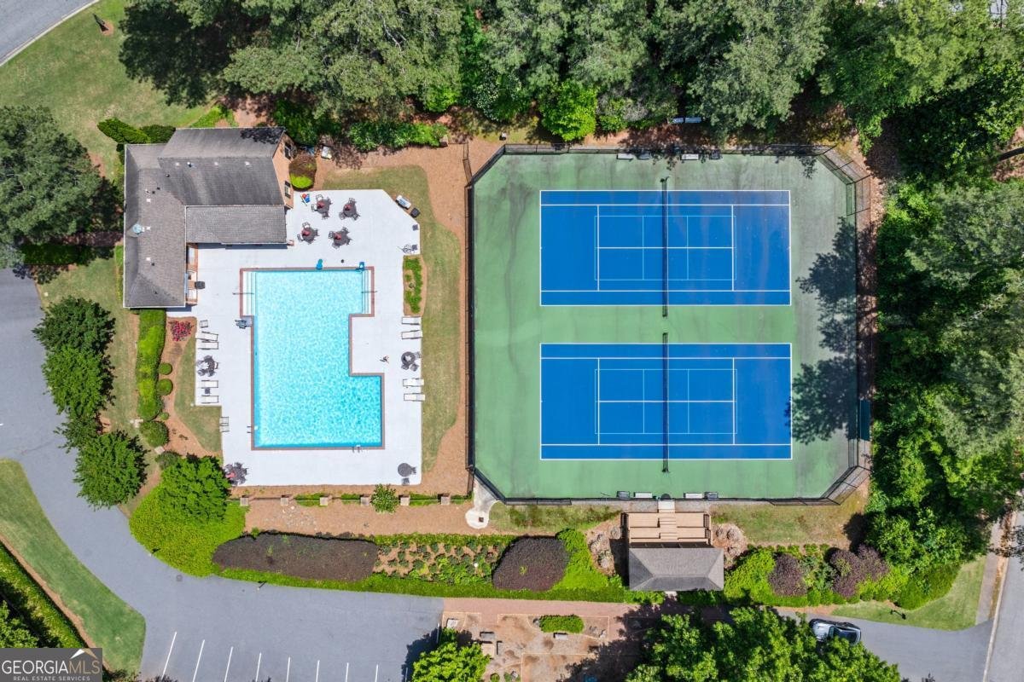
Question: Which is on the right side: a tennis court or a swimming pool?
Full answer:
Visible on the right side is a tennis court.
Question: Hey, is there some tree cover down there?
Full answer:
Yes, tree cover shows up in the scene.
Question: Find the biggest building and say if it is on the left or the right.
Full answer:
It is on the left.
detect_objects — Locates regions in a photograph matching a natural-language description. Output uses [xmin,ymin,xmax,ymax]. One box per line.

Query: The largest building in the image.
[123,127,294,309]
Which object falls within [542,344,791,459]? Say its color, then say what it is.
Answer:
blue tennis court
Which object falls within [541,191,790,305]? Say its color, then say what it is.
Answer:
blue tennis court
